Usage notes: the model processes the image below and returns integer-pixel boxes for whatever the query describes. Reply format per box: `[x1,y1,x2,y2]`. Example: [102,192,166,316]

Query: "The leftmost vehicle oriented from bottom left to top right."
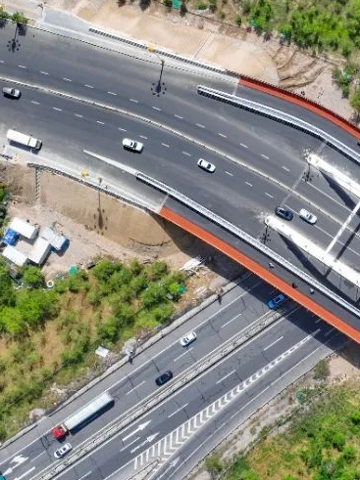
[52,443,71,459]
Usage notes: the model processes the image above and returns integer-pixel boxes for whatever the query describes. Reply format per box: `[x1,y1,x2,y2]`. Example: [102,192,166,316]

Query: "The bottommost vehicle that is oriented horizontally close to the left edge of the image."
[0,130,42,148]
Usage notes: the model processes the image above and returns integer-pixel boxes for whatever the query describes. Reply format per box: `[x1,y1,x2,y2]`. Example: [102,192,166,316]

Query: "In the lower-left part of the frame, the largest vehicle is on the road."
[52,391,114,440]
